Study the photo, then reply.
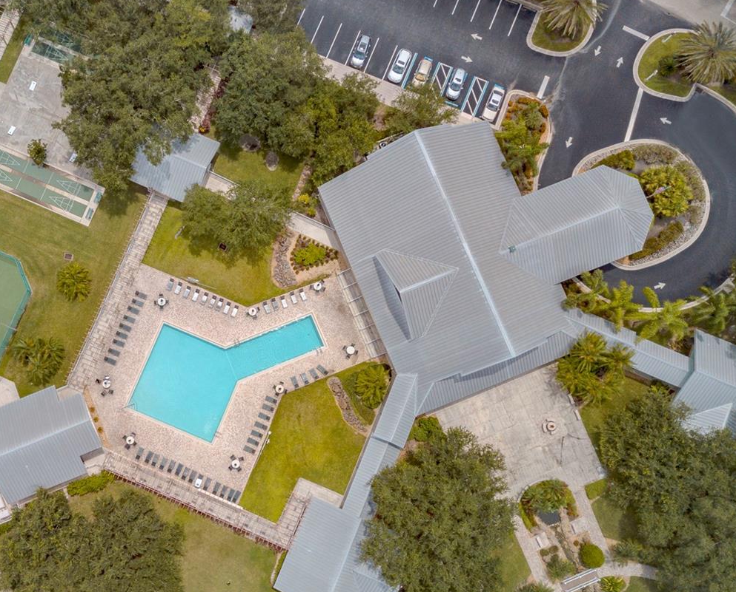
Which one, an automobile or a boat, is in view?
automobile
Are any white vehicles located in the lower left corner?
No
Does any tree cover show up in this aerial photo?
Yes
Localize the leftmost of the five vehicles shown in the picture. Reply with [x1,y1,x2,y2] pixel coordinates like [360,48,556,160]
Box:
[351,35,371,68]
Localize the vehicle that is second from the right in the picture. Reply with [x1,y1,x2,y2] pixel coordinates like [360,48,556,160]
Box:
[444,67,466,101]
